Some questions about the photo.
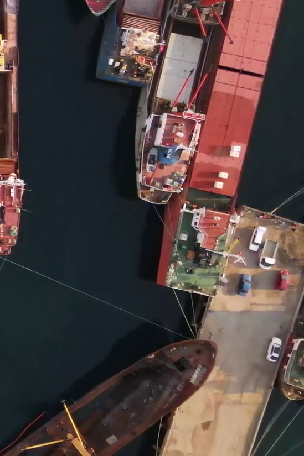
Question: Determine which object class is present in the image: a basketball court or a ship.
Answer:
ship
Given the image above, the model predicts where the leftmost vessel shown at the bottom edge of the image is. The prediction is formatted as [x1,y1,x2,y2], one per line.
[0,341,221,456]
